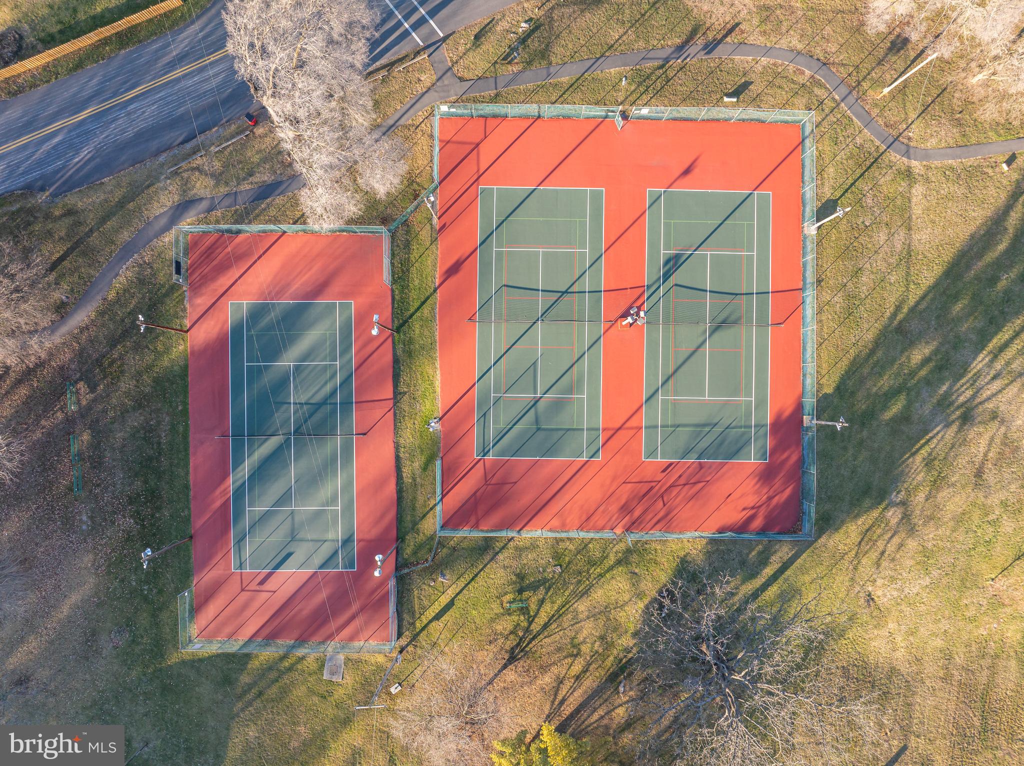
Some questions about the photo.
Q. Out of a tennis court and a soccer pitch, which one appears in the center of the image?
tennis court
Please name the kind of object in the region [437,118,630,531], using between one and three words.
tennis court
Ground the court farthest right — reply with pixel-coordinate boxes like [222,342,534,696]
[618,120,802,531]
